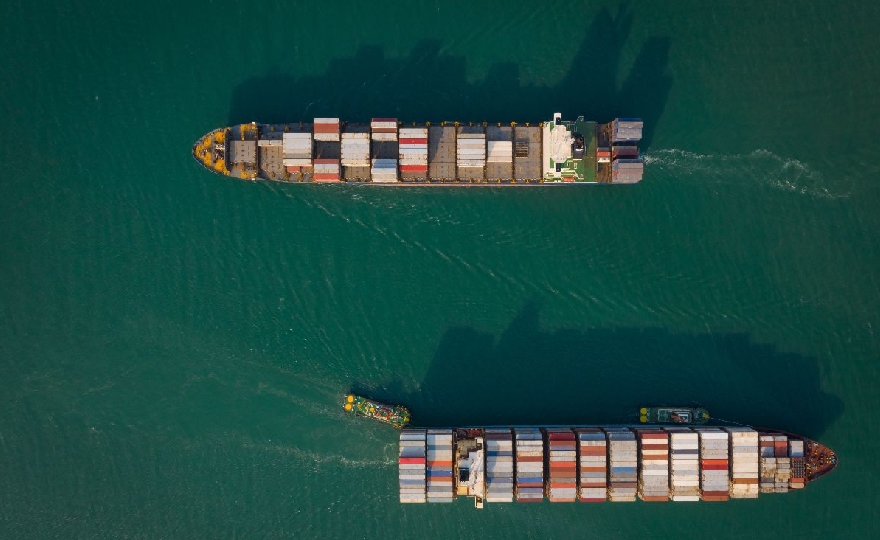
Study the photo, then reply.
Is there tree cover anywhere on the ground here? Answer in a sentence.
No, there is no tree cover in the image.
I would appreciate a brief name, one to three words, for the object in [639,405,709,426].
boat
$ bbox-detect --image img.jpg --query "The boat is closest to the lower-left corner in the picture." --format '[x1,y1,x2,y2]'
[341,392,412,431]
